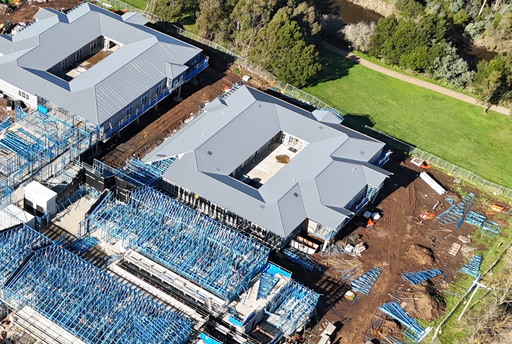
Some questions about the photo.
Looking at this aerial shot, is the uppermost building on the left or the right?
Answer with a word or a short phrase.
left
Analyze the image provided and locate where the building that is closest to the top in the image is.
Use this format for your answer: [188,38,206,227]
[0,6,208,150]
